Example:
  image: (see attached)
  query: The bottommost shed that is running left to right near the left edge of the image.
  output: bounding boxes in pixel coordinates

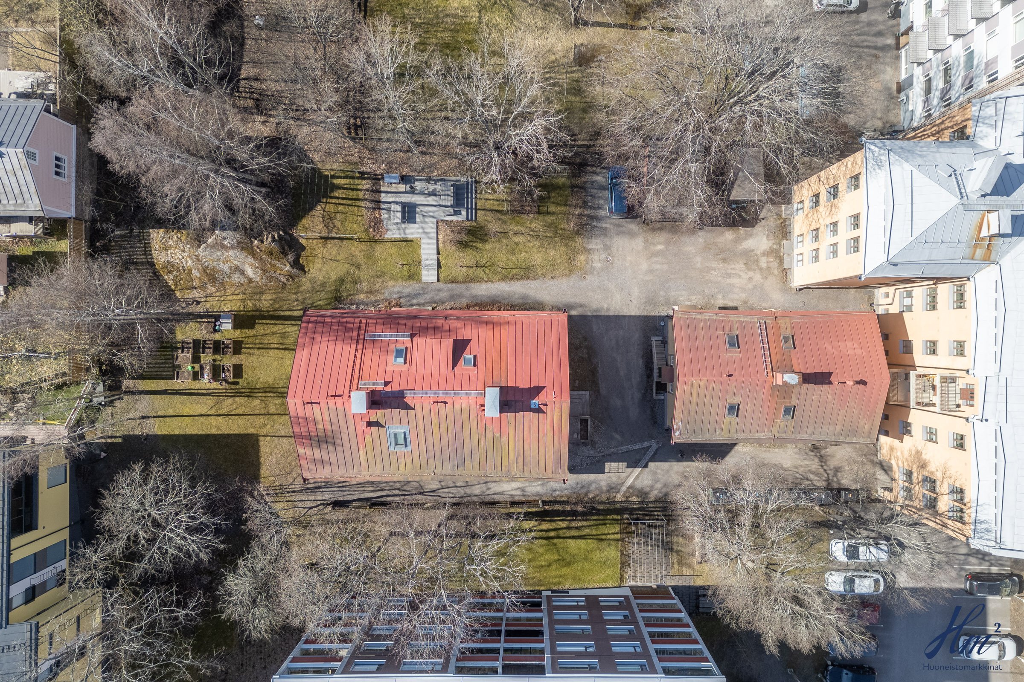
[12,221,55,235]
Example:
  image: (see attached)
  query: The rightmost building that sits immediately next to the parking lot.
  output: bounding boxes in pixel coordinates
[791,88,1024,555]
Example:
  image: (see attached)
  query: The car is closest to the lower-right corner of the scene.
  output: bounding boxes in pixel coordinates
[955,633,1013,661]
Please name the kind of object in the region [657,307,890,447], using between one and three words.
house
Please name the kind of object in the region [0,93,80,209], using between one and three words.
house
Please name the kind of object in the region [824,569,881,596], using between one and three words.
car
